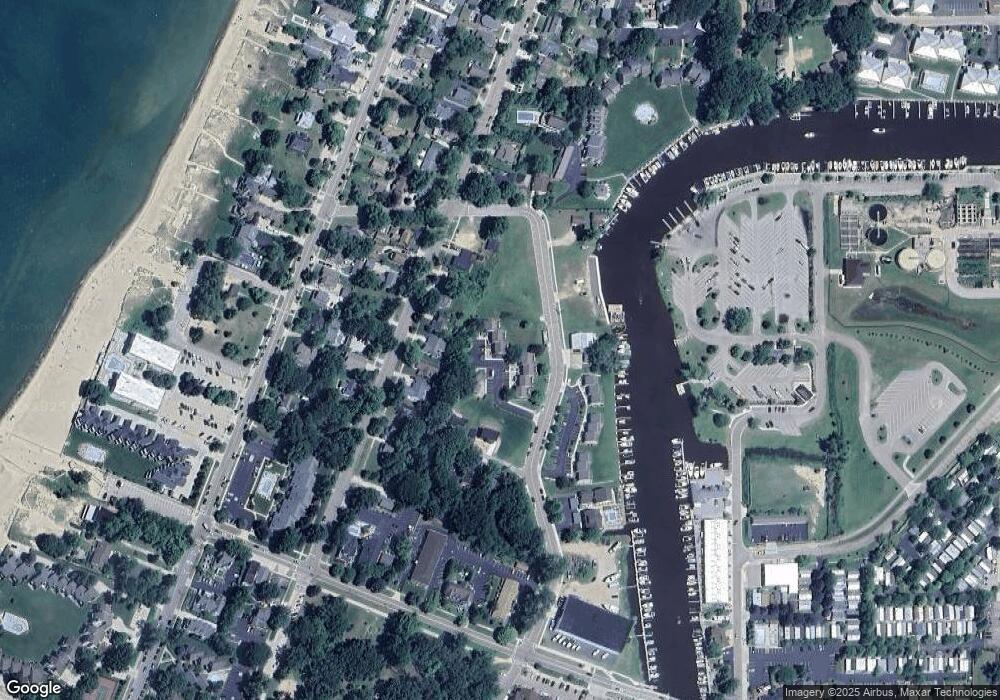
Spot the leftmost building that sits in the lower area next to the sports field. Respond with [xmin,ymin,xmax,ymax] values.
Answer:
[703,519,729,602]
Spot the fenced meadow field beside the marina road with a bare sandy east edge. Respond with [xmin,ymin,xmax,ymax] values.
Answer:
[752,462,821,508]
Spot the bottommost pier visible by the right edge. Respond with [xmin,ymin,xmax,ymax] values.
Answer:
[702,159,965,190]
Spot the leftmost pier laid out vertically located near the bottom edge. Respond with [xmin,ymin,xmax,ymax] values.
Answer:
[631,531,660,679]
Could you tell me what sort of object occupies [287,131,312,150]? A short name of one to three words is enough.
house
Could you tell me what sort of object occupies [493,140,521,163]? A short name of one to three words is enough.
house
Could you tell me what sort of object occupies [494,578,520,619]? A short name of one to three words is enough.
building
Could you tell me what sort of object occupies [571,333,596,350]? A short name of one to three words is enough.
shed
